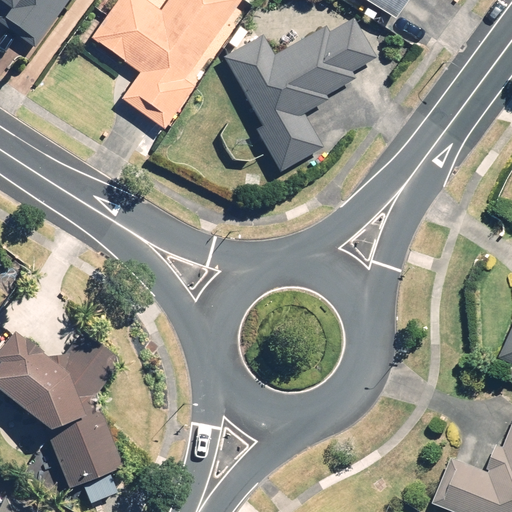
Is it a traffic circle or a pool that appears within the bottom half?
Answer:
traffic circle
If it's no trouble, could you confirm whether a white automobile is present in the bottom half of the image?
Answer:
Yes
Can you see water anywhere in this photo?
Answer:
No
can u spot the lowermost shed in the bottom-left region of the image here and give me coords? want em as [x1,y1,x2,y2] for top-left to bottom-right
[84,475,118,504]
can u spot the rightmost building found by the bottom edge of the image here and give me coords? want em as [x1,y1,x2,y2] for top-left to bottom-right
[432,423,512,512]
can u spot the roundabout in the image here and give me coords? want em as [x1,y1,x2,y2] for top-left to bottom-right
[239,287,344,392]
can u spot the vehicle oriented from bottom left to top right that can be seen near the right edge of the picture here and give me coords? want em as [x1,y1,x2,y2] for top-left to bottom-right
[483,0,511,25]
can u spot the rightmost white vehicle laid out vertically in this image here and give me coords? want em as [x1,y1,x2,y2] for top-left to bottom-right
[195,424,212,458]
